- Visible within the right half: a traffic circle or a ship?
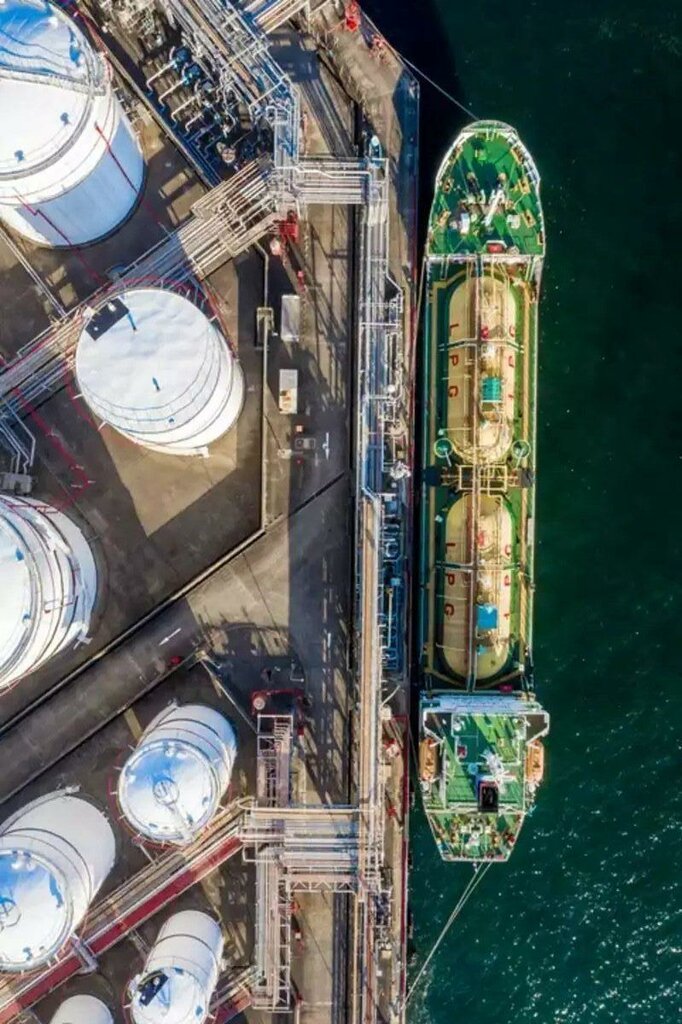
ship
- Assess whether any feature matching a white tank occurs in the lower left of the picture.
Yes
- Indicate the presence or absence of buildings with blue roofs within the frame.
No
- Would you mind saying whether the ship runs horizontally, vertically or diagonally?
vertically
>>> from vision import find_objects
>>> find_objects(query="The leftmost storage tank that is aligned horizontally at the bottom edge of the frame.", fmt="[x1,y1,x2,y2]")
[50,994,117,1024]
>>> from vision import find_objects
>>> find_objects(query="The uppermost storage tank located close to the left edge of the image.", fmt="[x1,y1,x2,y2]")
[0,0,186,286]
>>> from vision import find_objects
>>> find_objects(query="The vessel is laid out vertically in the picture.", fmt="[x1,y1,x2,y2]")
[415,119,550,865]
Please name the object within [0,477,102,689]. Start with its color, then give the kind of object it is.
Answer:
white storage tank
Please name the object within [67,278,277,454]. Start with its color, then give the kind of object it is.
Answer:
white storage tank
